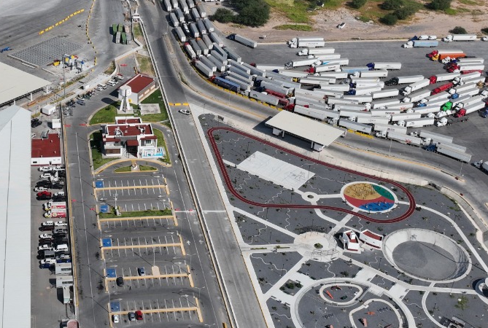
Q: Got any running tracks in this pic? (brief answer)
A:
Yes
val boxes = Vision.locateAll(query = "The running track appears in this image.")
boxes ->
[205,125,416,223]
